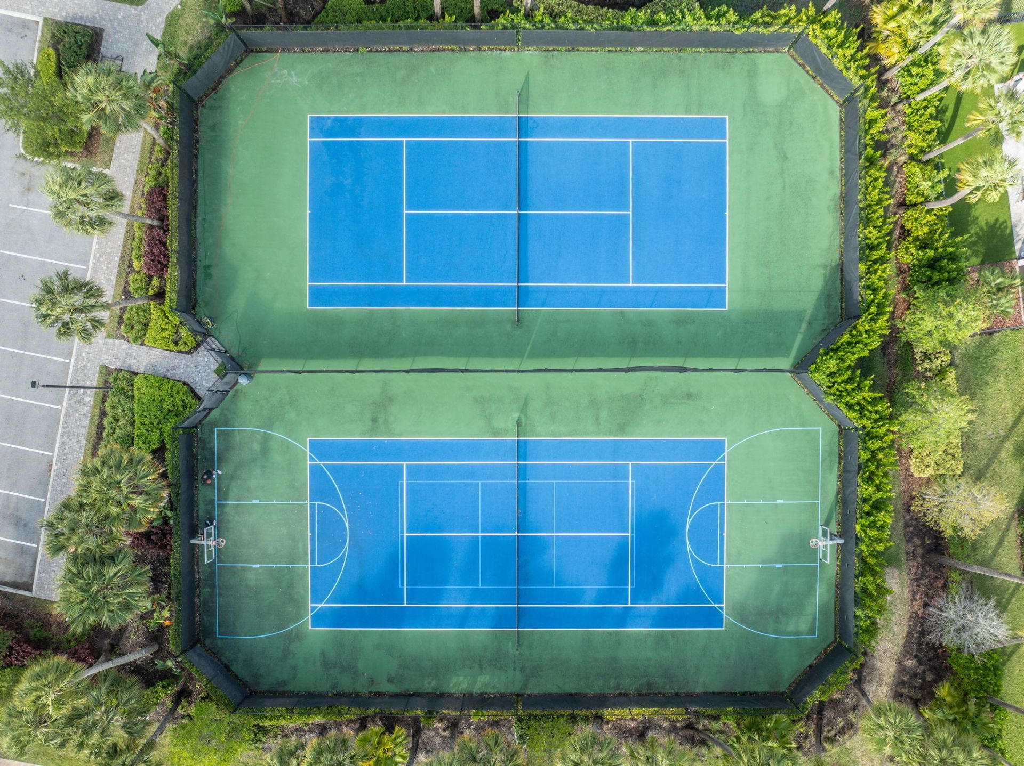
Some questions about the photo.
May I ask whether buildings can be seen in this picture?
No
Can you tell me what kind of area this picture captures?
sports ground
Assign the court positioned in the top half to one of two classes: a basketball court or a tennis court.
tennis court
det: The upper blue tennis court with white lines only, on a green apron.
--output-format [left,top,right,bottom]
[196,51,841,370]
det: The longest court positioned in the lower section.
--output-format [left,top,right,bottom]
[198,371,839,694]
